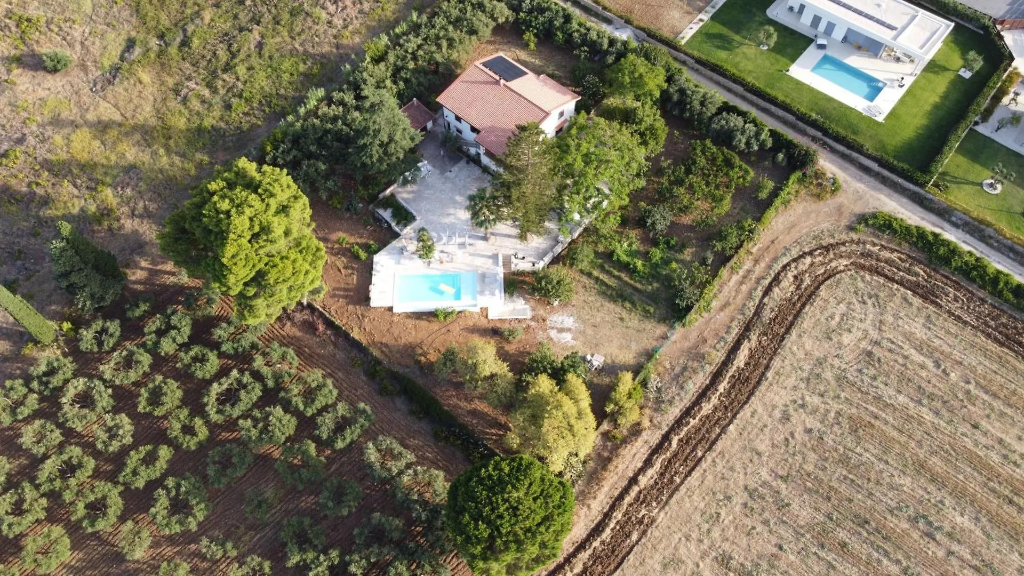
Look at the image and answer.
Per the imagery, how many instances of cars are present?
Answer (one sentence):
The count of cars is 0.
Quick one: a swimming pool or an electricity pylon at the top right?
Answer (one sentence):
You can see a swimming pool at the top right.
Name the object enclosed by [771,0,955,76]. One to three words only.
house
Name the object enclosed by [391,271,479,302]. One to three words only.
swimming pool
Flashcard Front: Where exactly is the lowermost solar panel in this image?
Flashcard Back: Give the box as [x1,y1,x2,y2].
[480,57,533,81]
